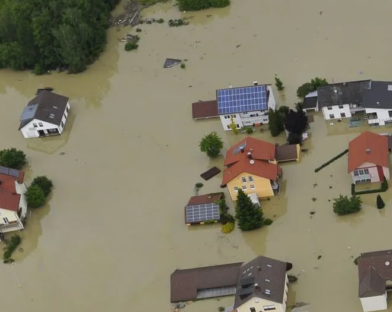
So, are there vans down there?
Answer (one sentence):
No, there's no van here.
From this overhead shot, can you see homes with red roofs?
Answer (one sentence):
Yes, the frame does contain a home with a red roof.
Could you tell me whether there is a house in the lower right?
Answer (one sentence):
Yes, there is a house in the lower right.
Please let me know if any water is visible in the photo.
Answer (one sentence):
Yes, there is water in the image.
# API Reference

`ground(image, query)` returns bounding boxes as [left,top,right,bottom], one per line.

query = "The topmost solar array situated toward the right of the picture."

[217,86,266,115]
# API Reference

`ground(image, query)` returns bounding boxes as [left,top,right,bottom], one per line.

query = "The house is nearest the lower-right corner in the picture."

[359,250,392,311]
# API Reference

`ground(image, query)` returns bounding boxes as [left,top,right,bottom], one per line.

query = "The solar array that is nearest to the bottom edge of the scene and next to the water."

[186,202,219,223]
